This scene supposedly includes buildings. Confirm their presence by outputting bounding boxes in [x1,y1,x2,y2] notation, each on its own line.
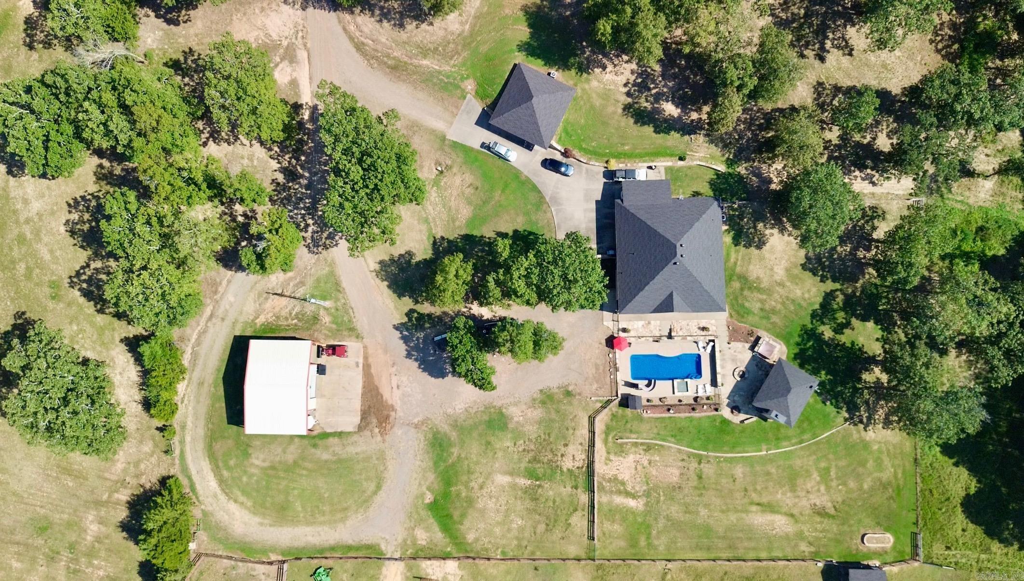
[614,179,727,315]
[750,357,820,428]
[841,562,887,581]
[628,395,643,410]
[243,339,320,437]
[489,62,576,149]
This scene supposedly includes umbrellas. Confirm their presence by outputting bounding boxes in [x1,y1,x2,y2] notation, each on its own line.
[613,335,627,351]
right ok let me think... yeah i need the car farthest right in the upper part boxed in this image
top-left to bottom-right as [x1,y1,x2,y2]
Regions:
[612,166,646,182]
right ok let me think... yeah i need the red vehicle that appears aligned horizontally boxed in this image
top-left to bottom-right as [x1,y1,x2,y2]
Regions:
[318,344,346,358]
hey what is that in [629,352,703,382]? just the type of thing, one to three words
swimming pool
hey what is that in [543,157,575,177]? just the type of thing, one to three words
car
